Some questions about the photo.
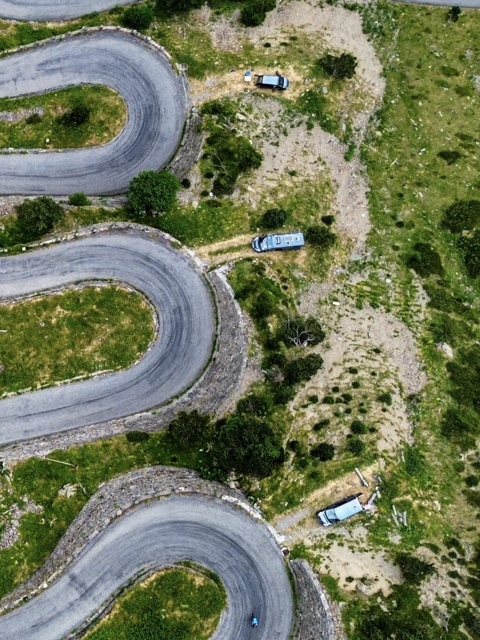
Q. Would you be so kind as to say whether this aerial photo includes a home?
No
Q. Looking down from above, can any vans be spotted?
Yes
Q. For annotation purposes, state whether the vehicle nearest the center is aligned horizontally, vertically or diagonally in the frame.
horizontally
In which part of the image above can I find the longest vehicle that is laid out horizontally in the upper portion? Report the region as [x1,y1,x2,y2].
[249,233,308,253]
